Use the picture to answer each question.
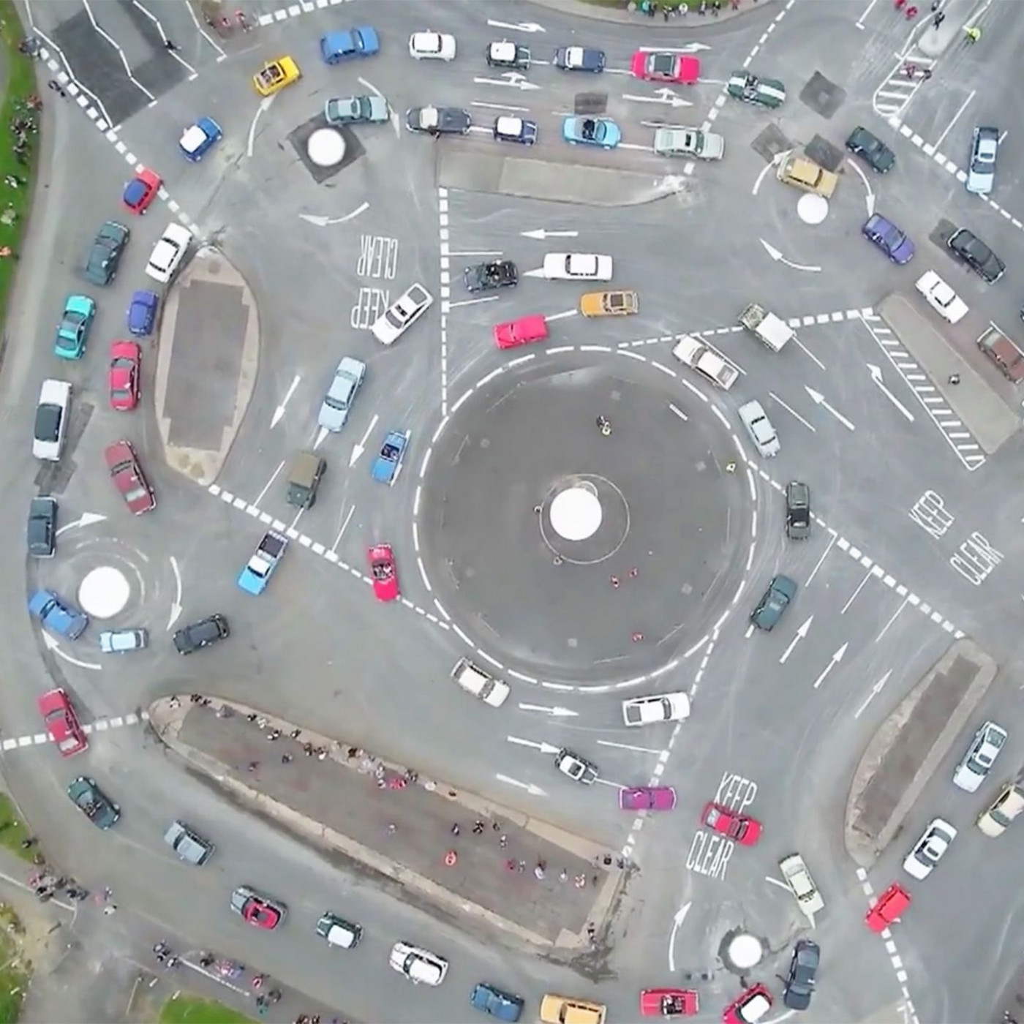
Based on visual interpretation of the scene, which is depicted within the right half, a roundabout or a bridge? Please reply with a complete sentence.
What appears within the right half is a roundabout.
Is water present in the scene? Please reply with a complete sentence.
No, there's no water in this view.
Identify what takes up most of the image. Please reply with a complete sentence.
The largest share of the image is taken up by paved ground.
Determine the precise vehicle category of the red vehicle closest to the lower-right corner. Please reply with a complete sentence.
It turns out the red vehicle closest to the lower-right corner is a car.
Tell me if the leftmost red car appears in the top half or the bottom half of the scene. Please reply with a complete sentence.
It is in the bottom half that the leftmost red car appears.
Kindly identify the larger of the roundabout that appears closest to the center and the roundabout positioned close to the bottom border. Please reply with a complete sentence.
The roundabout that appears closest to the center is bigger than the roundabout positioned close to the bottom border.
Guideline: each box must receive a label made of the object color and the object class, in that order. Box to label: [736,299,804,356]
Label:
white vehicle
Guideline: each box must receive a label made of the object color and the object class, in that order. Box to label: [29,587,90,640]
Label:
blue car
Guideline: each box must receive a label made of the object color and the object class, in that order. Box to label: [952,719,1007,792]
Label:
white car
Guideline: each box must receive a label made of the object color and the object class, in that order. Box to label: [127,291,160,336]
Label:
blue car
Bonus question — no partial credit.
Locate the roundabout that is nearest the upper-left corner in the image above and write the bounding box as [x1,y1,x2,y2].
[287,111,366,183]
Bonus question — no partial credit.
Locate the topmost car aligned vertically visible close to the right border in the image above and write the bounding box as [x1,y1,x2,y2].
[964,126,998,193]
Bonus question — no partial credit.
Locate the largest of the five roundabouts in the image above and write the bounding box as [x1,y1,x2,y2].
[414,345,757,690]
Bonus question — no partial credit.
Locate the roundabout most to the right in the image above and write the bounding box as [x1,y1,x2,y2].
[796,193,827,224]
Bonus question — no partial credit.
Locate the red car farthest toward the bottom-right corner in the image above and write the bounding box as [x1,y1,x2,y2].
[863,881,913,933]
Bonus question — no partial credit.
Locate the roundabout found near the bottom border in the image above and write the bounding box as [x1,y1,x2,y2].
[715,928,767,978]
